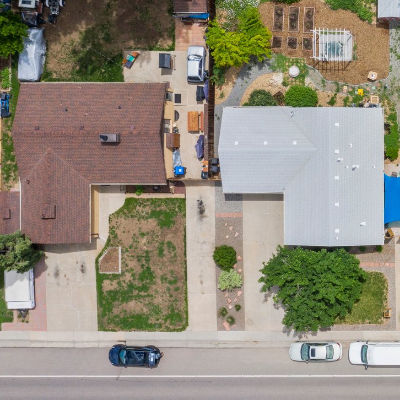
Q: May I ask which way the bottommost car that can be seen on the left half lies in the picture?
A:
horizontally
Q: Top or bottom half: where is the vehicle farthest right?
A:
bottom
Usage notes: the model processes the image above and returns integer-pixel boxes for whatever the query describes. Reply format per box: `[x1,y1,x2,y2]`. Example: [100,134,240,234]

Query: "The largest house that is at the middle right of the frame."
[217,106,385,247]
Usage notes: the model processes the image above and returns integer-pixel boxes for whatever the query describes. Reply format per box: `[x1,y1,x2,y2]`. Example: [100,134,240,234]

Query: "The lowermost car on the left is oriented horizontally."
[111,344,165,368]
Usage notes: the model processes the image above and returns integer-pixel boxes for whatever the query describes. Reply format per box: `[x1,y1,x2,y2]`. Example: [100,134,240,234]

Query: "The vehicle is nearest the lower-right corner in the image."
[350,339,400,367]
